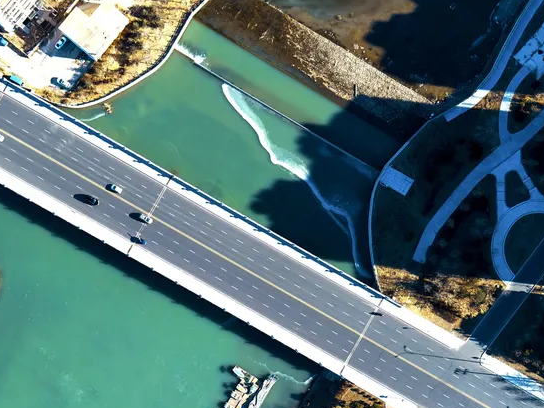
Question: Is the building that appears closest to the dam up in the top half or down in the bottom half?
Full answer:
The top half of the photo is where the building that appears closest to the dam is.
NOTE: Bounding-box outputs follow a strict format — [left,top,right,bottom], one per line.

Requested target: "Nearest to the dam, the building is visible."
[59,2,129,67]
